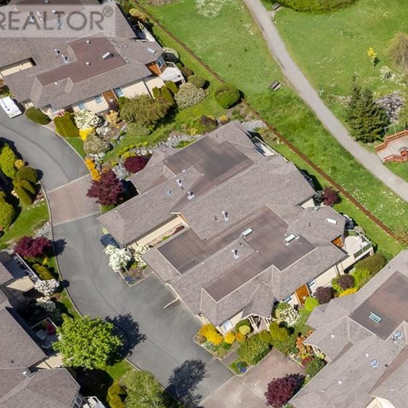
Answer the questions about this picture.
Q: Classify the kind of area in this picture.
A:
residential area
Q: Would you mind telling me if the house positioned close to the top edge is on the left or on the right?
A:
left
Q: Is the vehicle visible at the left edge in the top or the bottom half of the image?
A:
top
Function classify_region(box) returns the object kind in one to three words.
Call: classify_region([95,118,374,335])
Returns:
house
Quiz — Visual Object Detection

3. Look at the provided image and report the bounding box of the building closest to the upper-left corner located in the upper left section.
[0,0,188,125]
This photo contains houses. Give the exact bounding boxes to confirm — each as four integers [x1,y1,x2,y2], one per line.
[95,118,374,335]
[287,253,408,408]
[0,248,106,408]
[0,0,188,125]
